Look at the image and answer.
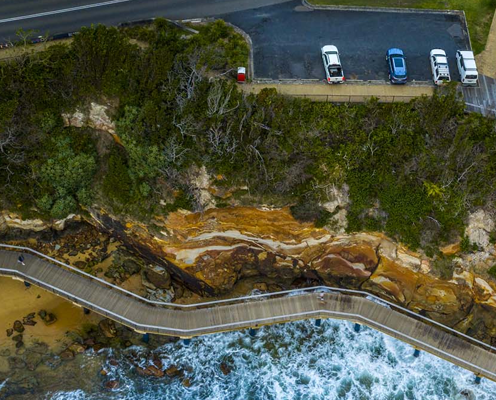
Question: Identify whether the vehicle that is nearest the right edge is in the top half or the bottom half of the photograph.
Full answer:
The top half of the photo is where the vehicle that is nearest the right edge is.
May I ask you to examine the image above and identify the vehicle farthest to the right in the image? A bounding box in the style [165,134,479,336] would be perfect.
[455,46,481,81]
